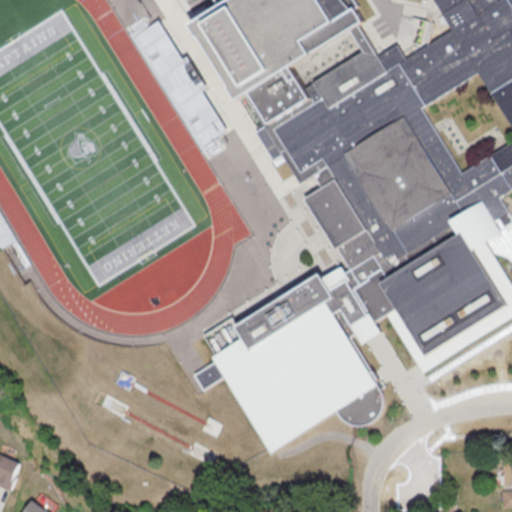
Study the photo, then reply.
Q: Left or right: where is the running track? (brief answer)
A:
left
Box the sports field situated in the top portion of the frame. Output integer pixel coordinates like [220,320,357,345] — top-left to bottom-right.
[0,0,212,300]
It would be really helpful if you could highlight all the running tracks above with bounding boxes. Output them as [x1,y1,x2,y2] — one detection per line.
[0,0,251,336]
